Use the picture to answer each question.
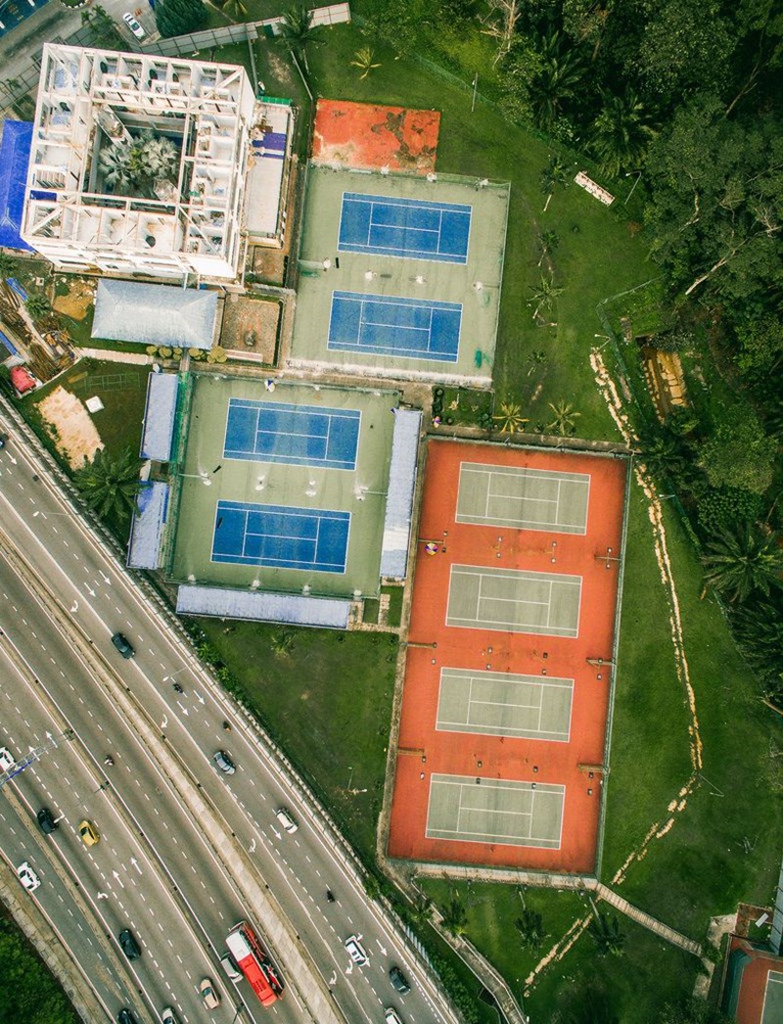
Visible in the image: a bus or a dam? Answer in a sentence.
It is a bus that can be seen here.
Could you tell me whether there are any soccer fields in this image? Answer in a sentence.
No, no soccer field is visible in the scene.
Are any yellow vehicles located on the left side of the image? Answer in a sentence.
Yes, a yellow vehicle is visible on the left side of the image.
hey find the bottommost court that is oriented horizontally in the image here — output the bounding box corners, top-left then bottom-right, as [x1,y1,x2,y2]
[425,773,566,851]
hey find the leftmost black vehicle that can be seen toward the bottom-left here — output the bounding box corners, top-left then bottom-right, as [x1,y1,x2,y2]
[35,807,55,837]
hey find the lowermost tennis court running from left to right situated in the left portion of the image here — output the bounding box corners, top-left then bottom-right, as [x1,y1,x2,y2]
[212,500,351,574]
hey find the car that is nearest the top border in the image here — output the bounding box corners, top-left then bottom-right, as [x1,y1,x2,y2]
[121,8,144,36]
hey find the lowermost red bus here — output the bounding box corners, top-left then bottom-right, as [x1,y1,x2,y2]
[227,934,280,1009]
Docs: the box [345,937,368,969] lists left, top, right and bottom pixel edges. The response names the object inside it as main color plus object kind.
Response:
white car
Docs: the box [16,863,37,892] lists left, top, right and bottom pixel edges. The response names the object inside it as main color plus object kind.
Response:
white car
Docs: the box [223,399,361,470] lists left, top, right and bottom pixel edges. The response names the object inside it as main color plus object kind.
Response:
blue tennis court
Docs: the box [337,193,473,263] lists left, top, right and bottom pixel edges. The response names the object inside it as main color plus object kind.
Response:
blue tennis court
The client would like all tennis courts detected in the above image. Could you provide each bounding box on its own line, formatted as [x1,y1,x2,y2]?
[455,462,591,535]
[337,193,473,263]
[326,291,463,362]
[445,564,583,638]
[212,500,351,574]
[425,773,566,851]
[436,667,574,743]
[223,399,361,470]
[761,971,783,1024]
